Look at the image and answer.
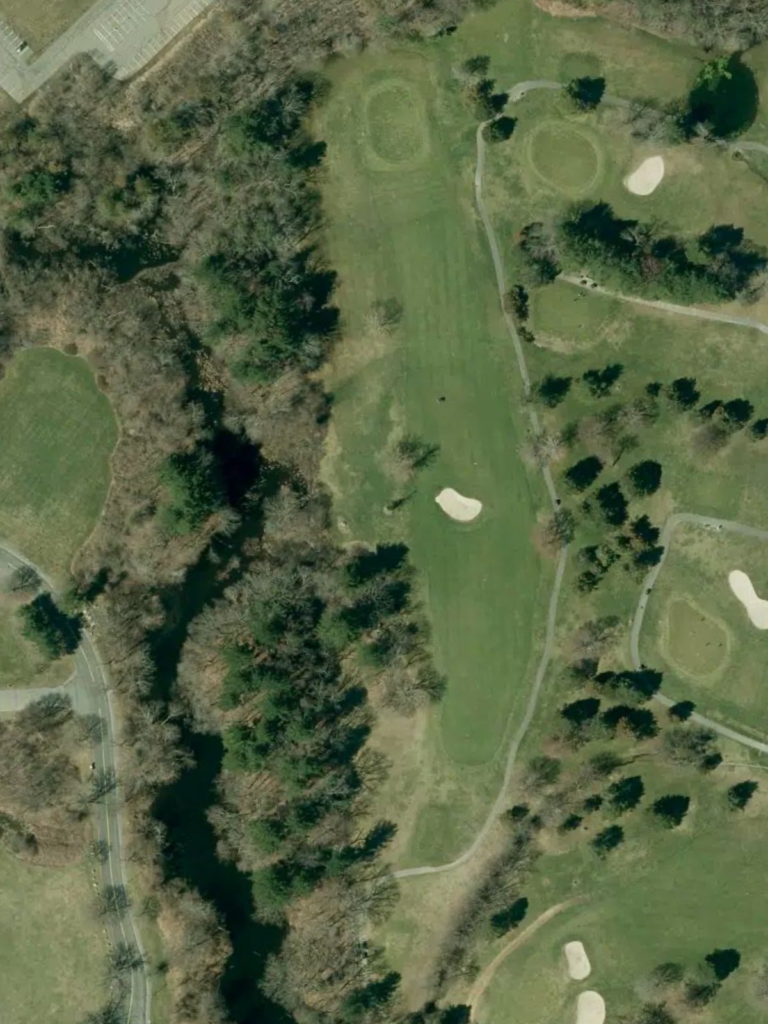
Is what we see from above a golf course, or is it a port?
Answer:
golf course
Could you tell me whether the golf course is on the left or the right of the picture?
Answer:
right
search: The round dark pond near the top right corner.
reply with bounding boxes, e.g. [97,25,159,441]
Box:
[687,54,759,138]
